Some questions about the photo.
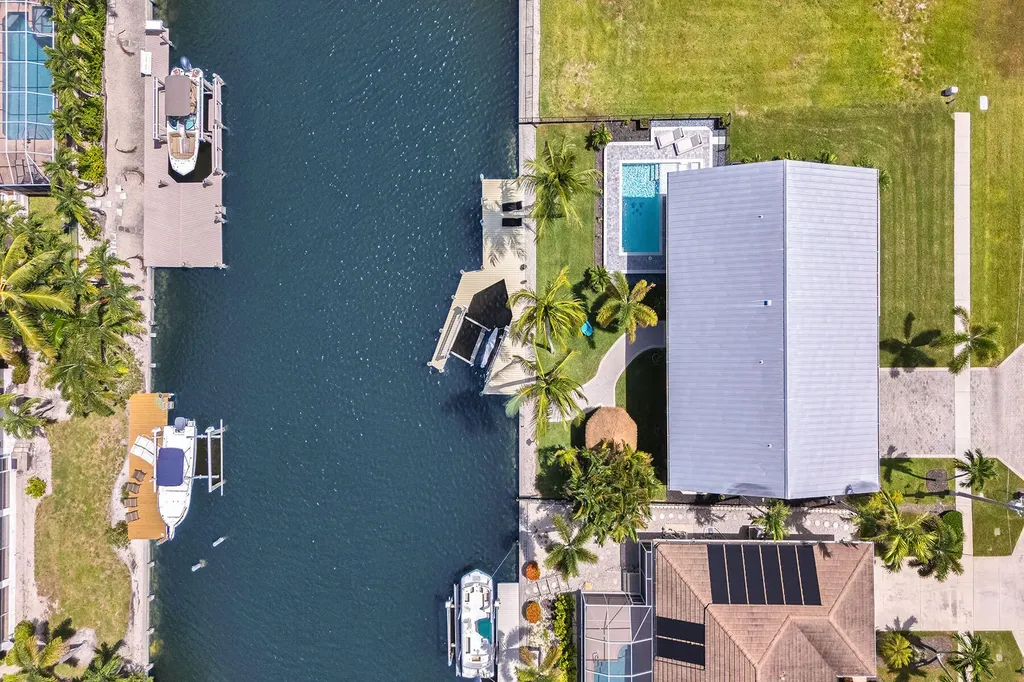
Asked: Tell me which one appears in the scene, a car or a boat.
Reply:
boat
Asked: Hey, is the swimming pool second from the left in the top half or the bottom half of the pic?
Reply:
bottom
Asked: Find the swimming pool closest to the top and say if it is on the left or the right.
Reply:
left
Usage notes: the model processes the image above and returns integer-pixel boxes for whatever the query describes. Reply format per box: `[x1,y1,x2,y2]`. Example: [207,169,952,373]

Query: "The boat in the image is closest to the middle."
[481,328,499,367]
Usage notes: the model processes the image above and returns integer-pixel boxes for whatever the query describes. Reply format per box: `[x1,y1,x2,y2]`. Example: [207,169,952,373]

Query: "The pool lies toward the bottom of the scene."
[593,645,630,682]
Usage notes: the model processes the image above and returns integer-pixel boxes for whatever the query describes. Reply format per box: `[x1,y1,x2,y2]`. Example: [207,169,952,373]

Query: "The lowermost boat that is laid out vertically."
[459,570,494,682]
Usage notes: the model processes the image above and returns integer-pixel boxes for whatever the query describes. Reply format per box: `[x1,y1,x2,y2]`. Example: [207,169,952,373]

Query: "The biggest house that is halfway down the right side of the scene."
[666,159,880,499]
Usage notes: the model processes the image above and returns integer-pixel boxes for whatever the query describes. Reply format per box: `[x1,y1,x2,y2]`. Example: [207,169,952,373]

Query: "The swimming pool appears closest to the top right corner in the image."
[619,160,705,255]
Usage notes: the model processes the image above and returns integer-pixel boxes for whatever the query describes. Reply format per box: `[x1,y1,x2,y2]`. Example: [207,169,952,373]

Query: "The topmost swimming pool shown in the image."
[4,12,51,139]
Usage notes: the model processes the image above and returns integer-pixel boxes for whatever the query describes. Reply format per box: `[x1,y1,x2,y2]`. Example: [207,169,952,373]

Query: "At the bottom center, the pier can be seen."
[497,583,519,682]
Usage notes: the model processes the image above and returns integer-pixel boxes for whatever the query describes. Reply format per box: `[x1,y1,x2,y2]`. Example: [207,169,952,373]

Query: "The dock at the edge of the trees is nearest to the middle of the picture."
[426,171,524,397]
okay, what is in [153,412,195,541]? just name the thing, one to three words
boat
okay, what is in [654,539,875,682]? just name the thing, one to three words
house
